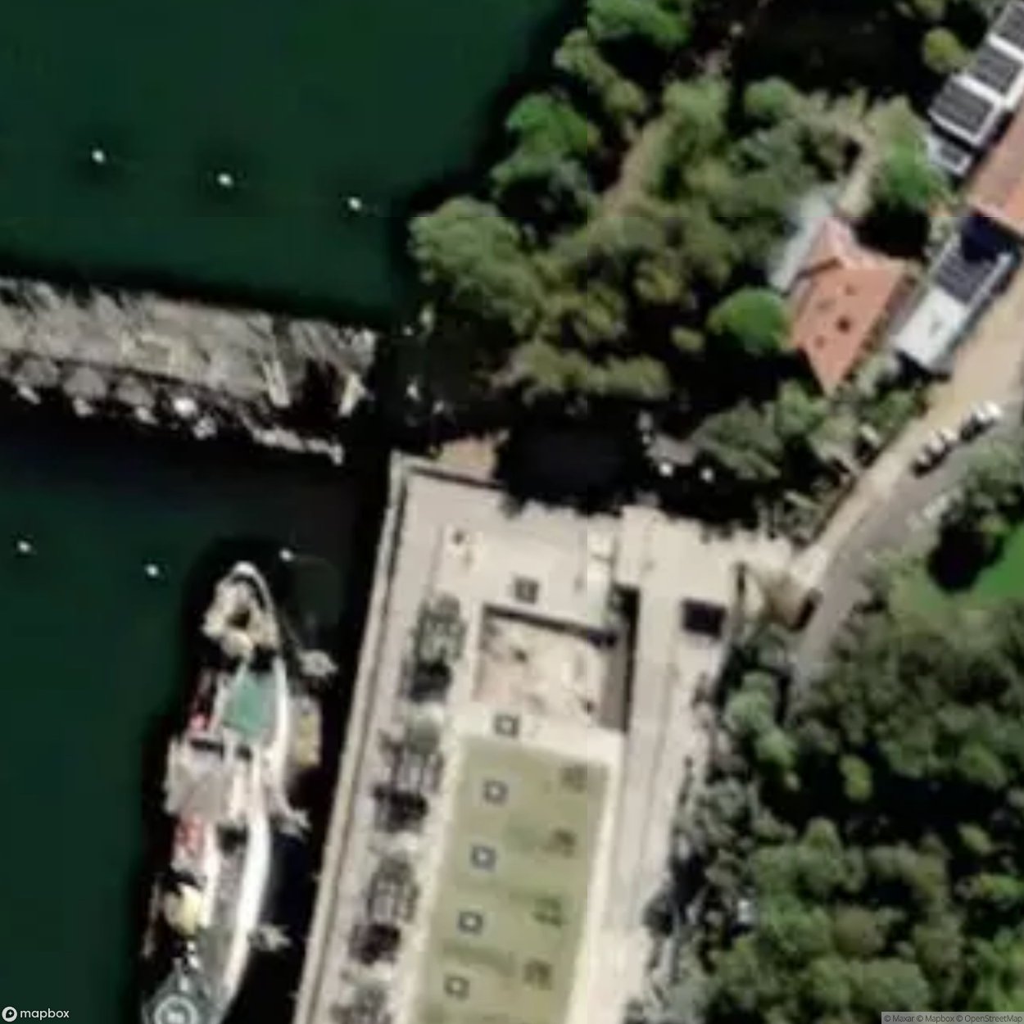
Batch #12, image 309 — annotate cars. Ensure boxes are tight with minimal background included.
[915,431,961,473]
[959,396,1005,438]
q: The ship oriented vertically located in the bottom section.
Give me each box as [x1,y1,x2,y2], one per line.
[137,562,292,1024]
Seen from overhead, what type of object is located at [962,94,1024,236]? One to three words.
house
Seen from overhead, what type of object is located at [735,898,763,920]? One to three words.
building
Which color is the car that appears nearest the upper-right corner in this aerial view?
white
